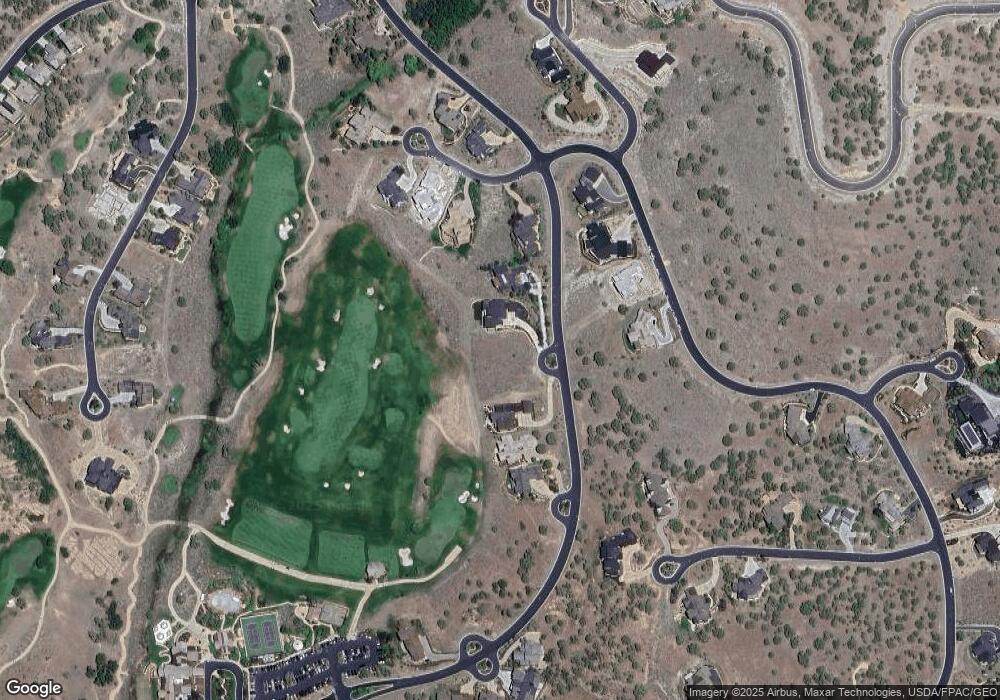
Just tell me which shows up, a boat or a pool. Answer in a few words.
pool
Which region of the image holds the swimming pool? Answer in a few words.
bottom left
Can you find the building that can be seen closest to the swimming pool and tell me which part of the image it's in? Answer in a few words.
bottom left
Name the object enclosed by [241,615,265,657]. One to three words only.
tennis court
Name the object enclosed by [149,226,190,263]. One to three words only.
house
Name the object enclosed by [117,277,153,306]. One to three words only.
house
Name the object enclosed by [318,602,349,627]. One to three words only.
building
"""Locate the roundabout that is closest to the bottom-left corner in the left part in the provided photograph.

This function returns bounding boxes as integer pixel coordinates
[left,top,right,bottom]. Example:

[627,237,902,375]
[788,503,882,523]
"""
[80,374,110,420]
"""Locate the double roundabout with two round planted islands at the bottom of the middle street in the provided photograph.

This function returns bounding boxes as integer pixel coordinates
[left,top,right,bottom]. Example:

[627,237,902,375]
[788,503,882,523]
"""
[457,634,503,680]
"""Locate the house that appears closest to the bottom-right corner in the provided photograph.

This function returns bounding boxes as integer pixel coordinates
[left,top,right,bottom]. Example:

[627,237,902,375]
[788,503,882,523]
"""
[966,630,1000,666]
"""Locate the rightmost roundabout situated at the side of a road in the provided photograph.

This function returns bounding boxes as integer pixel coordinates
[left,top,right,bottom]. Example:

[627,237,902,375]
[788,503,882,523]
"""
[928,350,966,381]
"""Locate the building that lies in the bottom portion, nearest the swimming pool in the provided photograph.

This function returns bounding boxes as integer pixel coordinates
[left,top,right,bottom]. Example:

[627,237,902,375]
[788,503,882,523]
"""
[214,632,233,651]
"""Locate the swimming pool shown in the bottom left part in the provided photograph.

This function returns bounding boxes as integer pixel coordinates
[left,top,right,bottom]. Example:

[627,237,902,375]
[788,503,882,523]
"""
[200,589,244,616]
